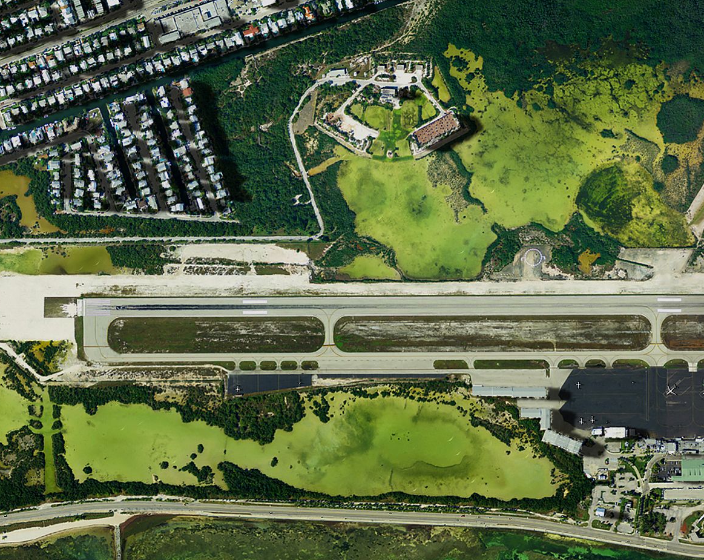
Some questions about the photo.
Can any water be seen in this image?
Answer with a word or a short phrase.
Yes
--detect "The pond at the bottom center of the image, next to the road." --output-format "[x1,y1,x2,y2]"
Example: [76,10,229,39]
[61,386,554,501]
